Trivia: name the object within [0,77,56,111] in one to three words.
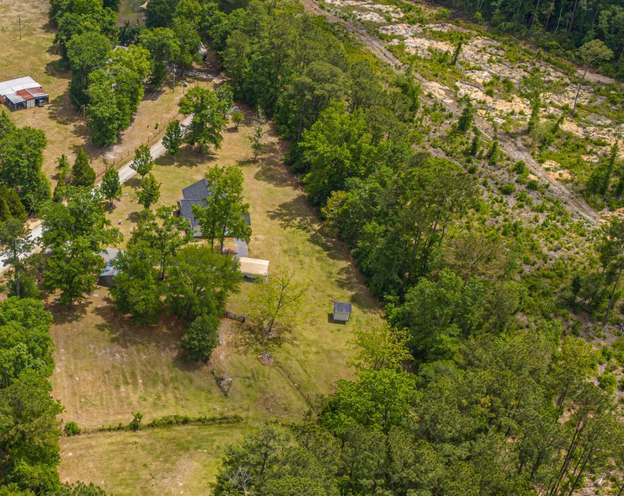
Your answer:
barn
